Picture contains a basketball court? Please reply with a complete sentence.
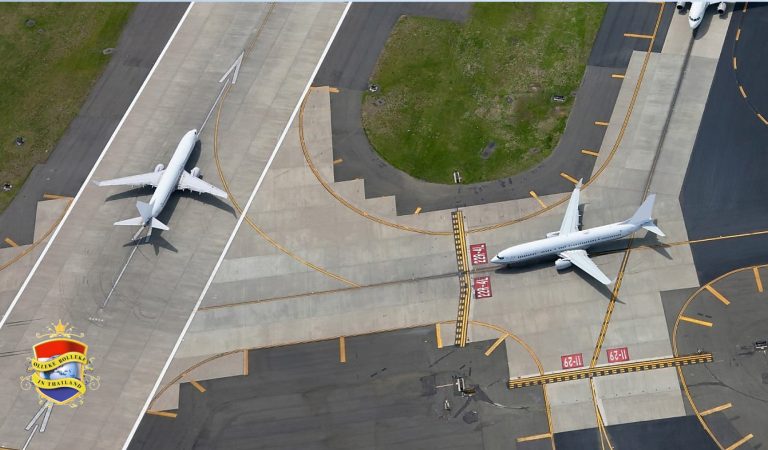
No, there isn't any basketball court down there.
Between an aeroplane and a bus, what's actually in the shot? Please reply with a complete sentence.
The image shows an aeroplane.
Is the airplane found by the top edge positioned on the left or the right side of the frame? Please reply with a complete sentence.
The airplane found by the top edge is on the right side of the image.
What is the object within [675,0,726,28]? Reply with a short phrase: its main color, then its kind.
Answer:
white airplane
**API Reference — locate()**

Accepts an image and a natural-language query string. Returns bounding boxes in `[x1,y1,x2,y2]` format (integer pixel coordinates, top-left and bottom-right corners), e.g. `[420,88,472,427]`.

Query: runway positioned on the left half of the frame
[0,0,362,450]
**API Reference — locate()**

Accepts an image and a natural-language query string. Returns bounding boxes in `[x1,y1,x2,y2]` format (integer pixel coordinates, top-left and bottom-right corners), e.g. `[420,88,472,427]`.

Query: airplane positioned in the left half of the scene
[93,128,229,229]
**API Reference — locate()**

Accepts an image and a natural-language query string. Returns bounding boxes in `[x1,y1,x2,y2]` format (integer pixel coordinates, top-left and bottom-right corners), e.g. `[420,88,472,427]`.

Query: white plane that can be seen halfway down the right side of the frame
[490,176,665,286]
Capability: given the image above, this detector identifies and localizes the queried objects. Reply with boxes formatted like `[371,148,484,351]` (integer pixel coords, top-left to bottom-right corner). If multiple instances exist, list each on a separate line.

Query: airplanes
[675,0,726,28]
[490,176,665,286]
[93,128,229,229]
